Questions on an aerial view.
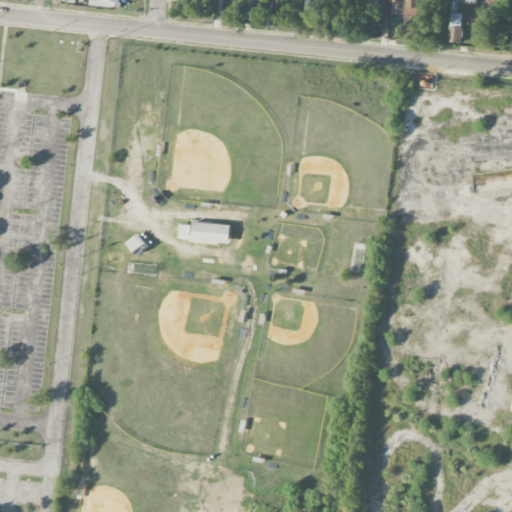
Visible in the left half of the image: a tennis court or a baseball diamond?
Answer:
baseball diamond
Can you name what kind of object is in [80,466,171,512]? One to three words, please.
baseball field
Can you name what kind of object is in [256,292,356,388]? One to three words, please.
baseball field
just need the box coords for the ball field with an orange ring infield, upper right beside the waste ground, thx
[289,96,387,219]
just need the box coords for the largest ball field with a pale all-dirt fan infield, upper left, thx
[158,66,282,207]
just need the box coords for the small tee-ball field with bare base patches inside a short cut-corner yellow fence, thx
[270,224,324,270]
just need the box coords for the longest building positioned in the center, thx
[178,222,230,246]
